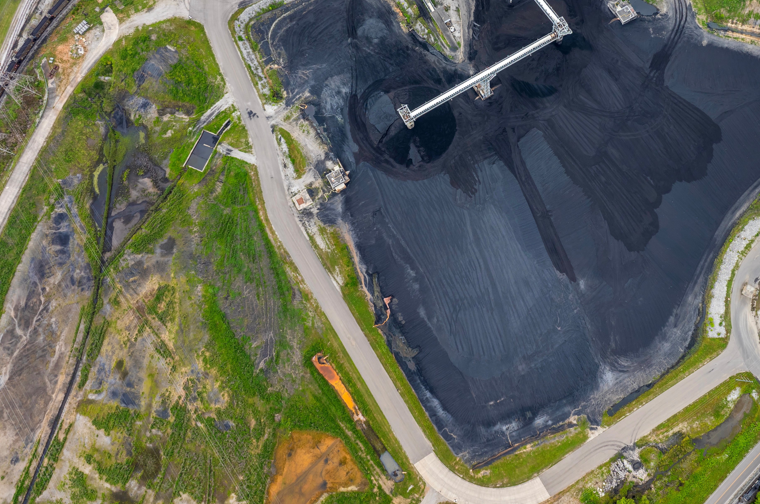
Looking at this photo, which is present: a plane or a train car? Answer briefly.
train car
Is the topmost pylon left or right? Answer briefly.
left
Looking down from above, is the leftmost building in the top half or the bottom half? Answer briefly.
top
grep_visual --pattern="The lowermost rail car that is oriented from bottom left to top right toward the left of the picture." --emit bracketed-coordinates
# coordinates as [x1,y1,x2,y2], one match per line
[1,60,20,84]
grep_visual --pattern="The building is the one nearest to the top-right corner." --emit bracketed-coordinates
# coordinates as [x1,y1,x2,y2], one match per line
[608,0,637,25]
